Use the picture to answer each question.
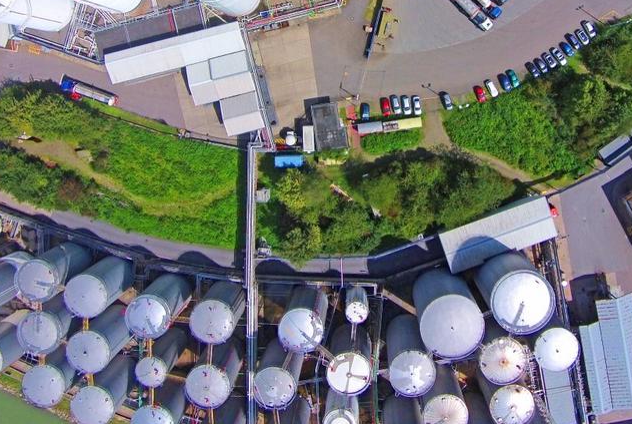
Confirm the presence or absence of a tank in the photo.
Yes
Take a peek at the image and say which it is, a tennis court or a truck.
truck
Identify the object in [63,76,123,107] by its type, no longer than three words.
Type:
truck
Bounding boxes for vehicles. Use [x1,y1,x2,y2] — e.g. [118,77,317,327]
[566,32,582,51]
[551,48,568,65]
[574,28,591,46]
[526,62,542,79]
[534,58,550,75]
[542,52,559,70]
[412,96,421,115]
[381,99,390,115]
[474,85,485,103]
[401,96,411,115]
[506,71,519,88]
[361,103,369,119]
[559,41,574,58]
[442,91,452,110]
[498,74,512,93]
[391,96,400,115]
[450,0,494,34]
[581,20,599,39]
[63,76,123,107]
[475,0,503,21]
